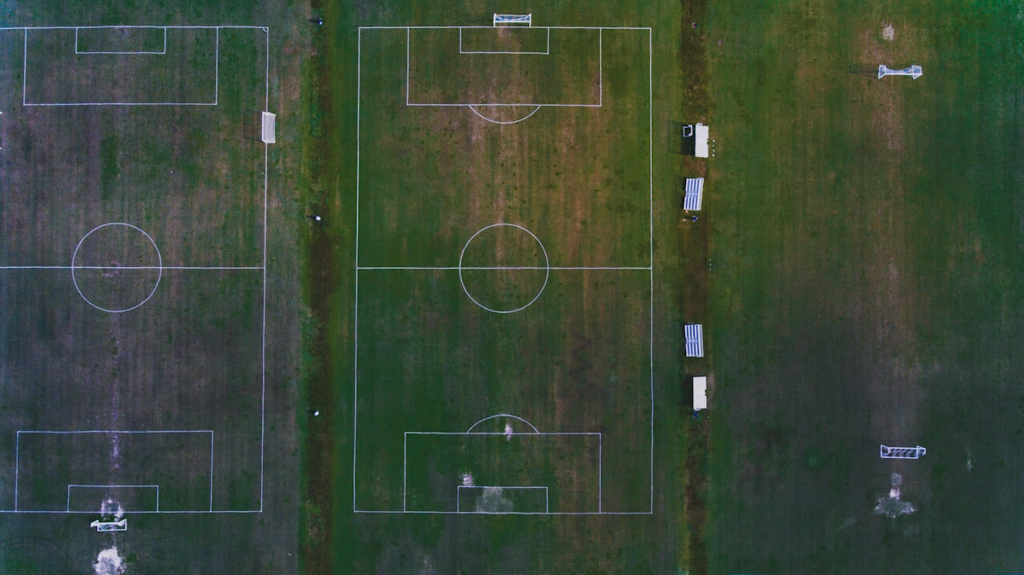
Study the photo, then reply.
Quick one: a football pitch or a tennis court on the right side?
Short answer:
football pitch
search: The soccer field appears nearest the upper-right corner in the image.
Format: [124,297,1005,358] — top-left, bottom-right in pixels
[724,17,1024,547]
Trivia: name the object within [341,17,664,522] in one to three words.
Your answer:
soccer field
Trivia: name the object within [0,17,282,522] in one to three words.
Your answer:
soccer field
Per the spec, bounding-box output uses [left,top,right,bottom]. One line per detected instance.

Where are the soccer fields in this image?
[0,17,282,522]
[341,17,664,522]
[724,17,1024,547]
